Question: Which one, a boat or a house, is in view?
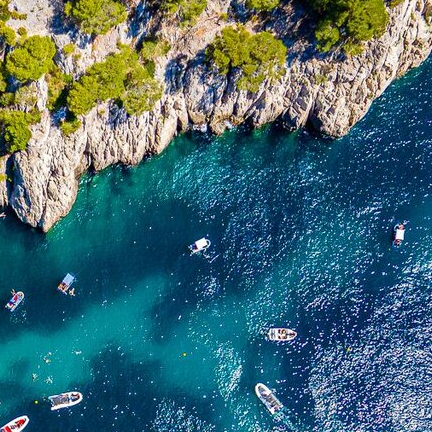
boat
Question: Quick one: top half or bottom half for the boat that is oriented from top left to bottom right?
bottom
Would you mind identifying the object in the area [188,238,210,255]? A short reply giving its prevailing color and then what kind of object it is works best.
white boat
